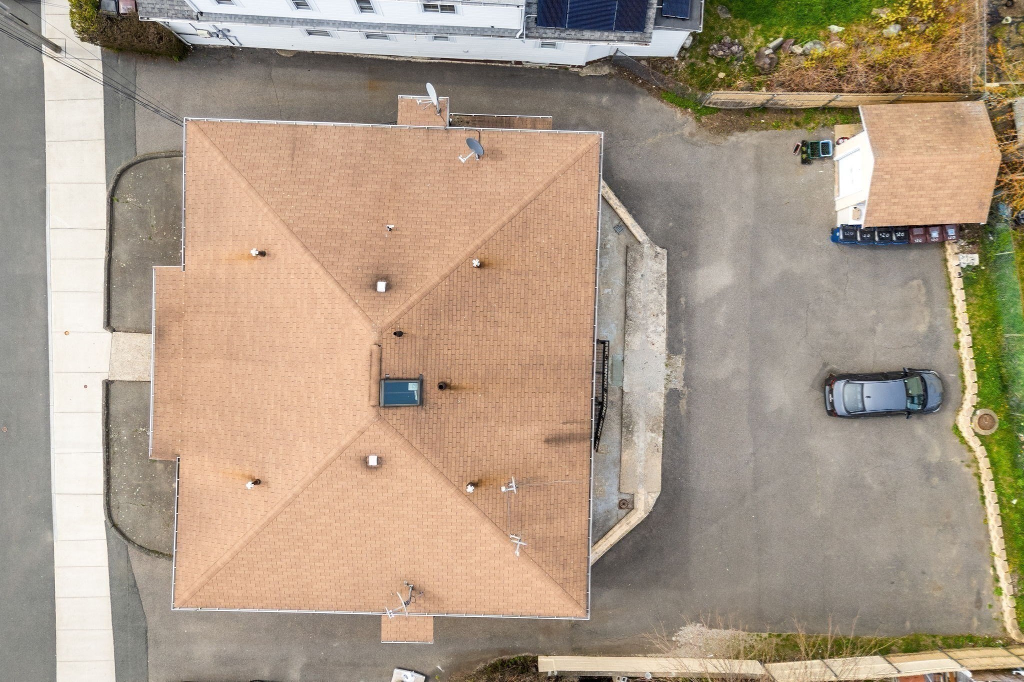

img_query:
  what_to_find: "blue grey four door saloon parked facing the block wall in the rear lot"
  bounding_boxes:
[823,365,943,422]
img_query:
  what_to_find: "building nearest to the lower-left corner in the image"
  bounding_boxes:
[148,96,603,641]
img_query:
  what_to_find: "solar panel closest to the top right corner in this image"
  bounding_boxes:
[662,0,690,20]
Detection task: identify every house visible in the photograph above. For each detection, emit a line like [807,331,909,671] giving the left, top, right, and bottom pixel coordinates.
[138,0,707,69]
[148,96,603,641]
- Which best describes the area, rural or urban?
urban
